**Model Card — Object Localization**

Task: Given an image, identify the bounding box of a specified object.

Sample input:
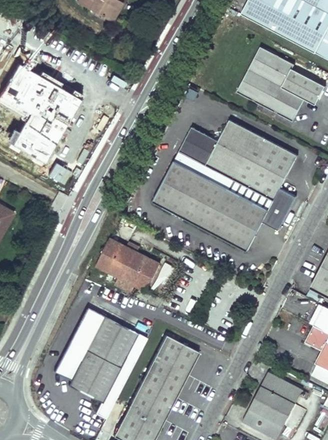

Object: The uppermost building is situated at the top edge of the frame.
[76,0,128,21]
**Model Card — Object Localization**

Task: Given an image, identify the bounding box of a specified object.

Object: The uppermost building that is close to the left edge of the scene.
[0,64,83,165]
